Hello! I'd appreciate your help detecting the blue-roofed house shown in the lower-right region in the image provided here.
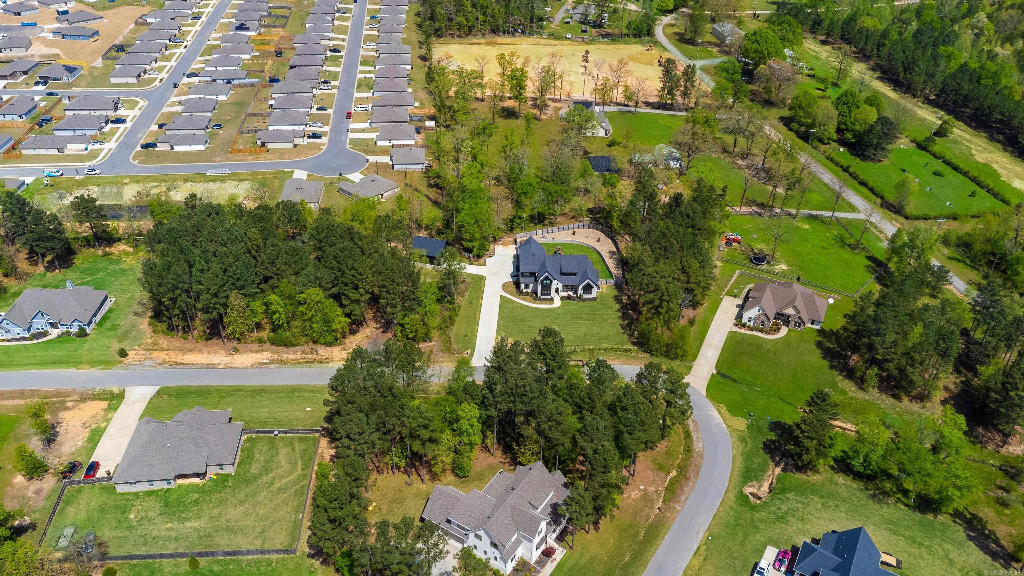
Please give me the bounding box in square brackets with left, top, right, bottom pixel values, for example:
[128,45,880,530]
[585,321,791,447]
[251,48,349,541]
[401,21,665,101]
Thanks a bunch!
[794,528,897,576]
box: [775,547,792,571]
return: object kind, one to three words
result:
car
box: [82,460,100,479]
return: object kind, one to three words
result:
car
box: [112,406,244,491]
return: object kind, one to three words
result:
house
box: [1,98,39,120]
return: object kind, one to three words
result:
house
